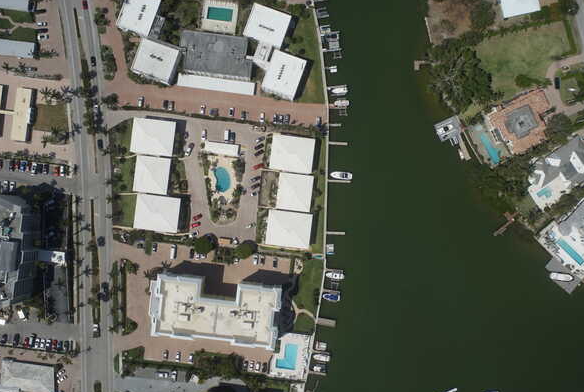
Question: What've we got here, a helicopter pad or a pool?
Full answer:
This aerial view contains a pool.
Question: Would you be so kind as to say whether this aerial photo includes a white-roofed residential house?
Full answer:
Yes, the frame does contain a white-roofed residential house.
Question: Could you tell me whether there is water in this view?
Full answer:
Yes, some water is visible.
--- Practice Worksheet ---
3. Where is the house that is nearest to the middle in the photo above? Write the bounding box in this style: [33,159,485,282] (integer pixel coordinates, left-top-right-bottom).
[276,171,314,211]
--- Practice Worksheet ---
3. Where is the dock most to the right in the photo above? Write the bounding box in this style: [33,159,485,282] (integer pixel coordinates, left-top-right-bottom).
[544,257,580,294]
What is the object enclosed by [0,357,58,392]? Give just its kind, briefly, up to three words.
building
